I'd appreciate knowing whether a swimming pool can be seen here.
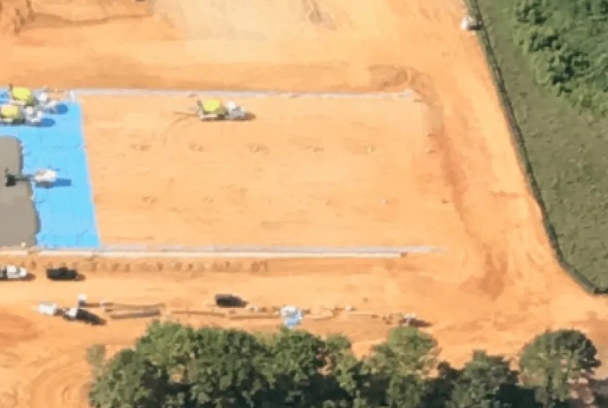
No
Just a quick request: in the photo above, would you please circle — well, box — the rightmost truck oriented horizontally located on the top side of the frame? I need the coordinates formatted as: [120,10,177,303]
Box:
[190,97,244,120]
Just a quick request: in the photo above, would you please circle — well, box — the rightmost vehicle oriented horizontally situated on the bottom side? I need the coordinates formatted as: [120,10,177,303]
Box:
[213,294,242,309]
